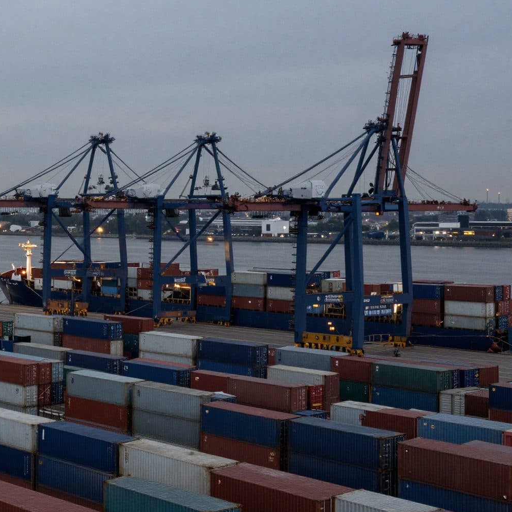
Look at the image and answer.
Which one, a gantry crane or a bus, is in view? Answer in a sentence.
The one in the frame is a gantry crane.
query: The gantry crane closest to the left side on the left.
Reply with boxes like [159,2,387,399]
[0,133,151,319]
